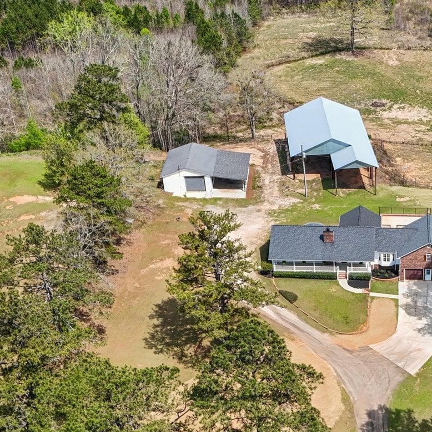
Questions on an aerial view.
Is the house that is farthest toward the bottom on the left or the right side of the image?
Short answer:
right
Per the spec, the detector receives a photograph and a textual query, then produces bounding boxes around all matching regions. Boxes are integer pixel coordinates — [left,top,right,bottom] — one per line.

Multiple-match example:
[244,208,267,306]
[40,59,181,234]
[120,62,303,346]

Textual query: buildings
[284,99,380,195]
[155,142,263,198]
[269,207,432,282]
